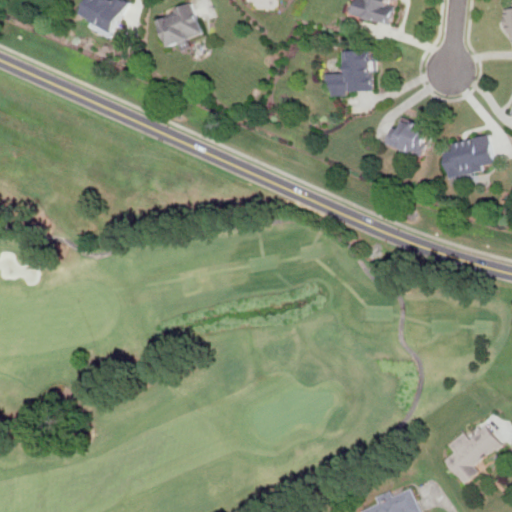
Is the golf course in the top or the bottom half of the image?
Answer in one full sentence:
You can find the golf course in the bottom half.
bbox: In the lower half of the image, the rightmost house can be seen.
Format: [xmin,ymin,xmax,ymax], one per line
[444,424,502,486]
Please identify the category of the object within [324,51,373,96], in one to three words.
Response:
house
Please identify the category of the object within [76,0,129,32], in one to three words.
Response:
house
